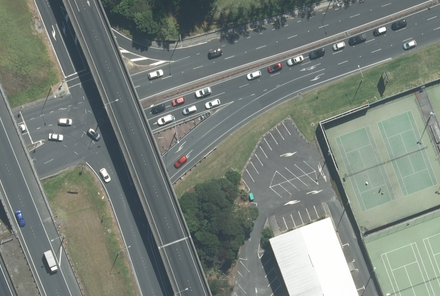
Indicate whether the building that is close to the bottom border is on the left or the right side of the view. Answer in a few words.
right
